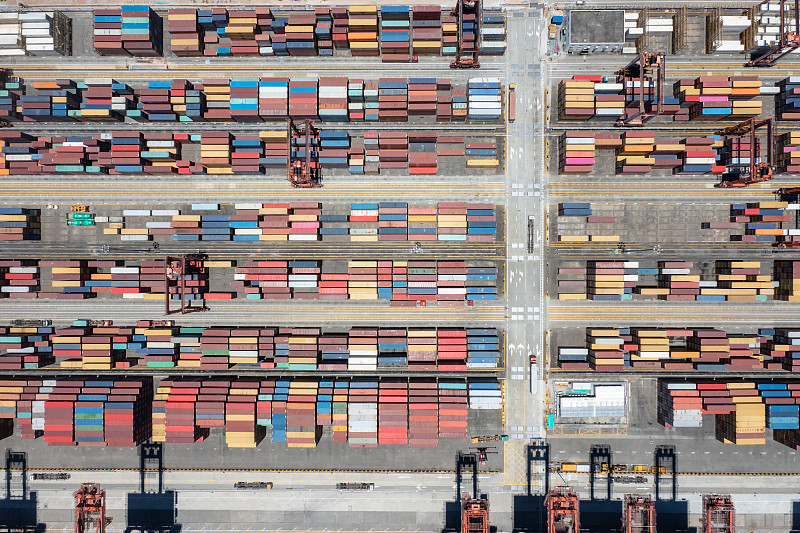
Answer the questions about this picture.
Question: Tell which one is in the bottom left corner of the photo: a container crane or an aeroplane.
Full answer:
It is a container crane that can be seen in the bottom left corner of the photo.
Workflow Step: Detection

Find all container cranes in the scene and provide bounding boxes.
[701,495,738,533]
[545,486,587,533]
[745,0,800,65]
[457,488,501,533]
[165,252,210,318]
[616,48,661,126]
[288,116,323,187]
[622,494,659,533]
[71,484,124,533]
[716,115,774,187]
[450,0,482,66]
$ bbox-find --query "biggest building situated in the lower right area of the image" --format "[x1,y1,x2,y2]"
[555,380,624,417]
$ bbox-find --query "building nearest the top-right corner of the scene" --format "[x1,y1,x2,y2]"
[565,10,624,52]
